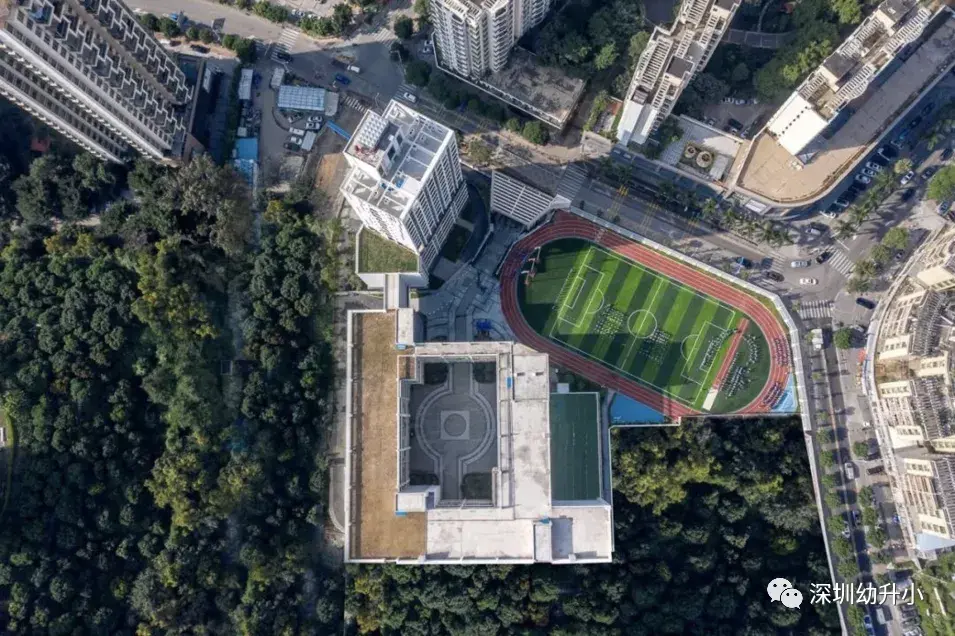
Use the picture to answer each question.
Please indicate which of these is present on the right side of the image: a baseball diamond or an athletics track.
athletics track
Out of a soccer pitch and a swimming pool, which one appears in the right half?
soccer pitch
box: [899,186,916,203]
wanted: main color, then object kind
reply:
black car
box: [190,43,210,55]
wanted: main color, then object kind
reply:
black vehicle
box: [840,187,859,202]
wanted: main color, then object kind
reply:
black car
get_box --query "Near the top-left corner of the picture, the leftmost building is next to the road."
[0,0,201,177]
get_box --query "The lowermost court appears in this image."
[549,390,604,498]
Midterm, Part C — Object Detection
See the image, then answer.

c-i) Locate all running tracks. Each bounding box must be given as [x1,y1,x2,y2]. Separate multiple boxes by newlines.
[500,213,788,431]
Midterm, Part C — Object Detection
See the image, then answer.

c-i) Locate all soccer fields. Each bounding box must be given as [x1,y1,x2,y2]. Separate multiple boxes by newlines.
[516,236,769,412]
